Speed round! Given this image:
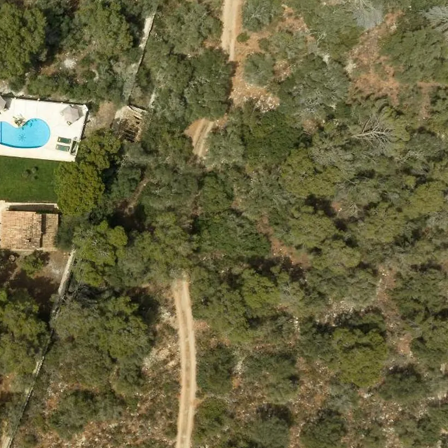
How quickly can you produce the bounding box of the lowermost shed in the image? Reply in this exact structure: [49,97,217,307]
[1,211,58,250]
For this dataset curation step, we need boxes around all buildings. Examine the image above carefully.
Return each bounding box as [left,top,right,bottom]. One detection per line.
[112,103,151,148]
[1,211,58,250]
